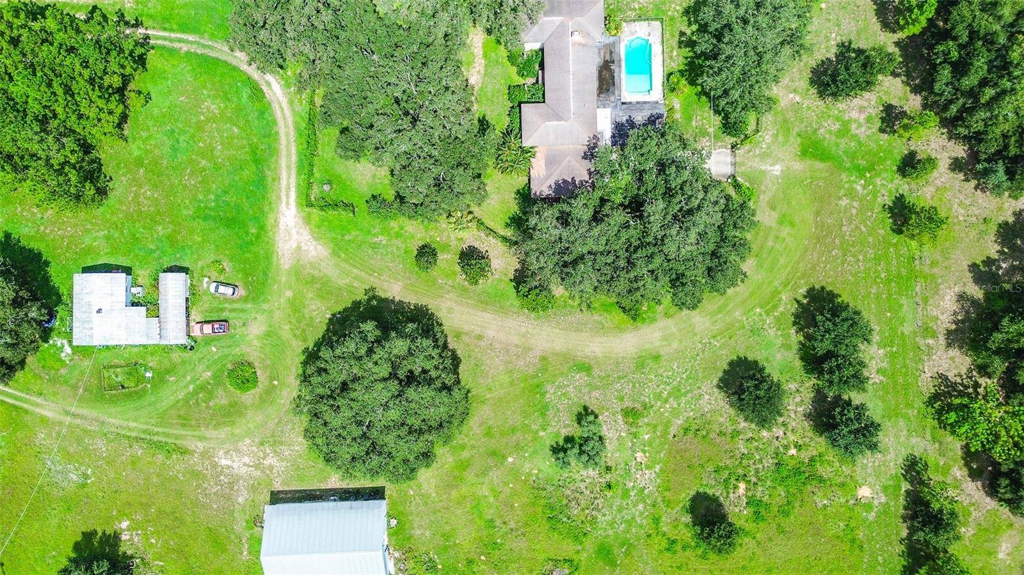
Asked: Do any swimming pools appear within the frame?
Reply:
Yes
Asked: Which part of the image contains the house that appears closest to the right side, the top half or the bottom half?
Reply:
top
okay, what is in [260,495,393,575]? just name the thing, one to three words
barn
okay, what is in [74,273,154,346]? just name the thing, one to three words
house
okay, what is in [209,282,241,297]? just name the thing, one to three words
car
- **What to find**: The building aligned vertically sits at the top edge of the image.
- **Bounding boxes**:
[521,0,611,197]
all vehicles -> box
[209,282,241,297]
[192,321,230,336]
